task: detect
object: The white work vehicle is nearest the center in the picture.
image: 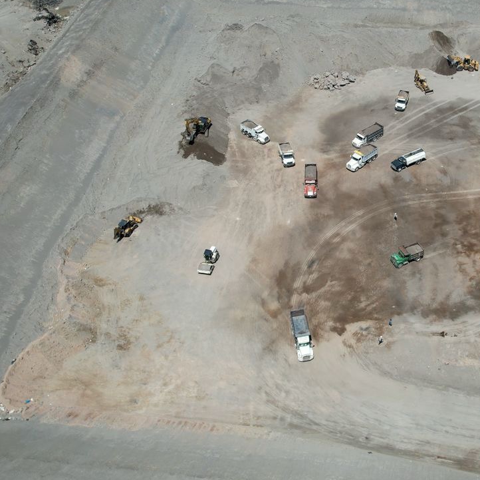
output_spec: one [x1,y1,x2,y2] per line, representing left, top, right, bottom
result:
[195,251,220,275]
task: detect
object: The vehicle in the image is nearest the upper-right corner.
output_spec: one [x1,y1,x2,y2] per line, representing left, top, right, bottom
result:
[451,55,480,71]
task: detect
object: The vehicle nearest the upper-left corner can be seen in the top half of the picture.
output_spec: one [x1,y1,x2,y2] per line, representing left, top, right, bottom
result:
[179,118,214,140]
